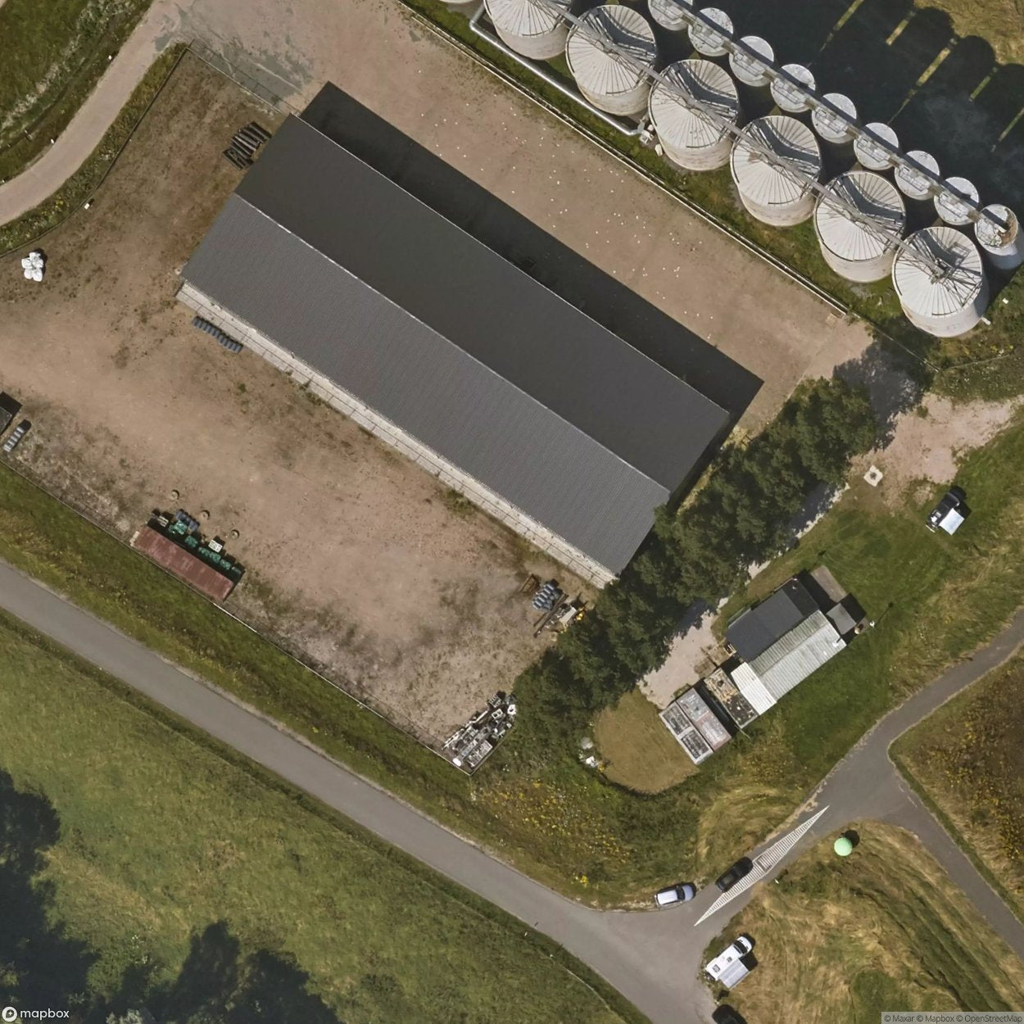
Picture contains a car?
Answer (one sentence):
Yes, a car can be made out from above.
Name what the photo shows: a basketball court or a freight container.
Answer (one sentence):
Of the two, only a freight container appears.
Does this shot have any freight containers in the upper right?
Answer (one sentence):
No, I see no freight container in the upper right.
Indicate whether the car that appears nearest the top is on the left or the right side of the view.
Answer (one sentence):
It is on the right.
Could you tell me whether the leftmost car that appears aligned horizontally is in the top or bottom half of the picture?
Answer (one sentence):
It is in the bottom half that the leftmost car that appears aligned horizontally appears.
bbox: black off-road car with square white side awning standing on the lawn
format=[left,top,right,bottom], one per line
[923,490,963,536]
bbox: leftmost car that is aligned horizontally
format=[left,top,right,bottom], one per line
[655,886,695,909]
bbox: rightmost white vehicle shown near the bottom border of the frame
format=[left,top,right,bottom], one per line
[704,937,753,994]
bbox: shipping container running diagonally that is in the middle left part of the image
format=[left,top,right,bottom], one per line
[133,526,236,603]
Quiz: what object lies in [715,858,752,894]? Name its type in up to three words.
car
